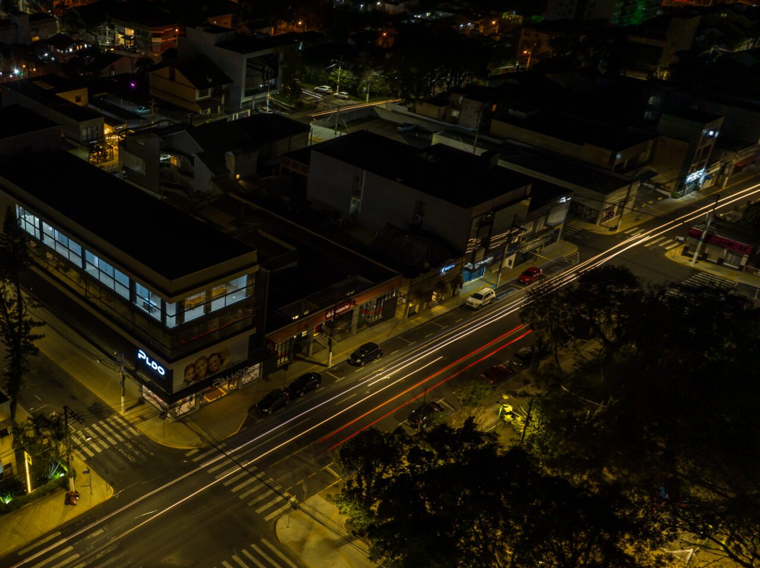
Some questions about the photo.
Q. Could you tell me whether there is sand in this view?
No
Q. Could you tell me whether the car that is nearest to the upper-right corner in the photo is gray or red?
red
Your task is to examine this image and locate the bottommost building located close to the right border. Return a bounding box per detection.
[686,196,760,273]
